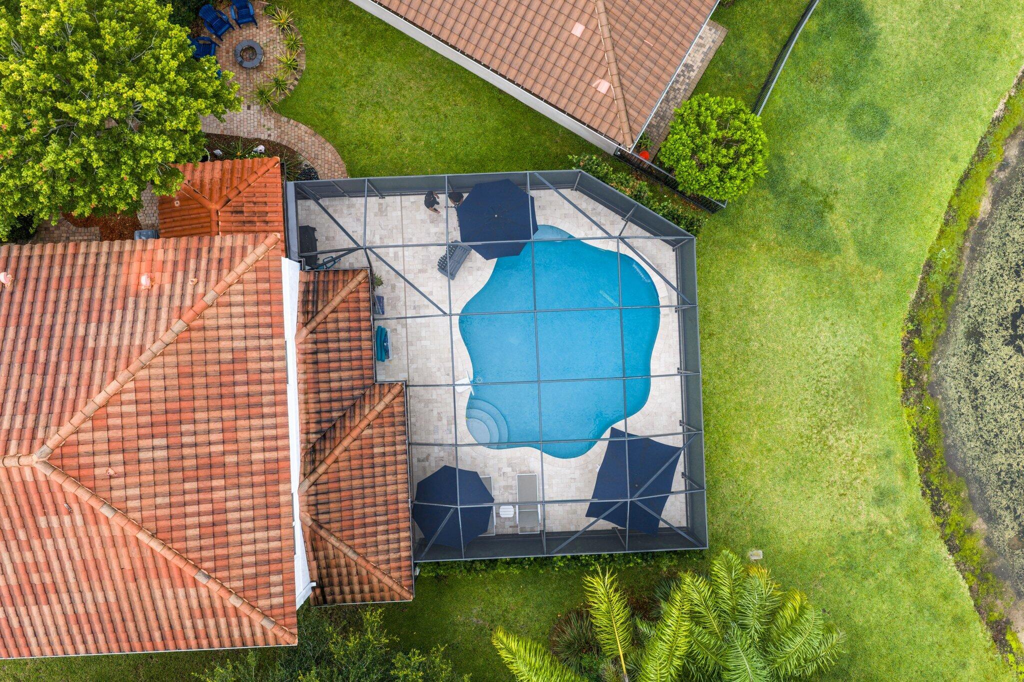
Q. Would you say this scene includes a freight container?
No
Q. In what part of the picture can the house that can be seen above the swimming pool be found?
top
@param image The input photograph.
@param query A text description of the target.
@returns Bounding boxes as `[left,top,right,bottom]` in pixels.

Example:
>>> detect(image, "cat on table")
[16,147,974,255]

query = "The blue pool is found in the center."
[451,215,669,467]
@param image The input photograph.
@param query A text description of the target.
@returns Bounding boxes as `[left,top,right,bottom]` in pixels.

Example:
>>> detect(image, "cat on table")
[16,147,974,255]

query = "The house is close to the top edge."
[365,0,719,151]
